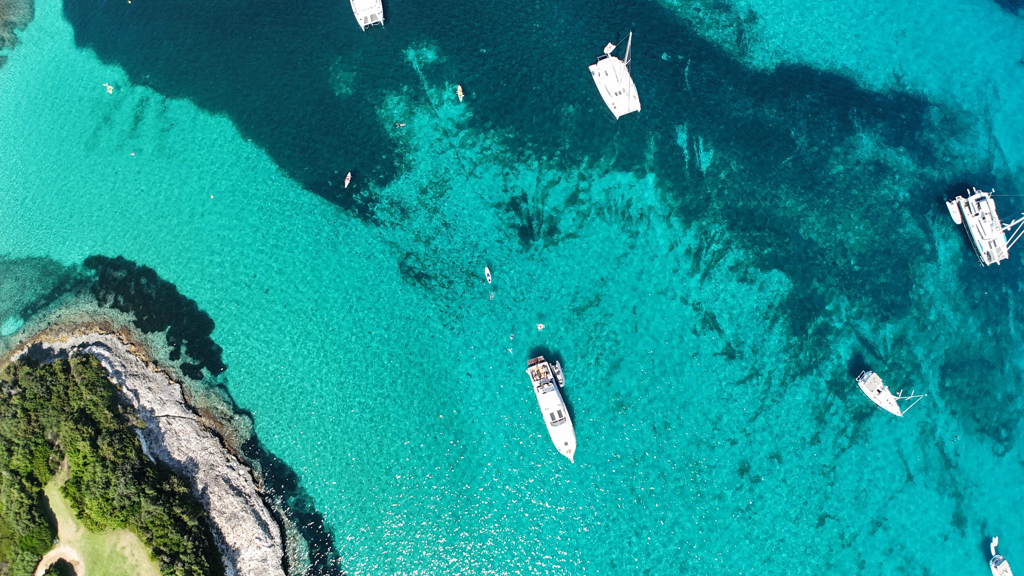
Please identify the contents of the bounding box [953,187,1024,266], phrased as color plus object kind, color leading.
white boat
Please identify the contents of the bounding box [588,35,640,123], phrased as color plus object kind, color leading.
white boat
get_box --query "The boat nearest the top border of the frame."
[347,0,386,36]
